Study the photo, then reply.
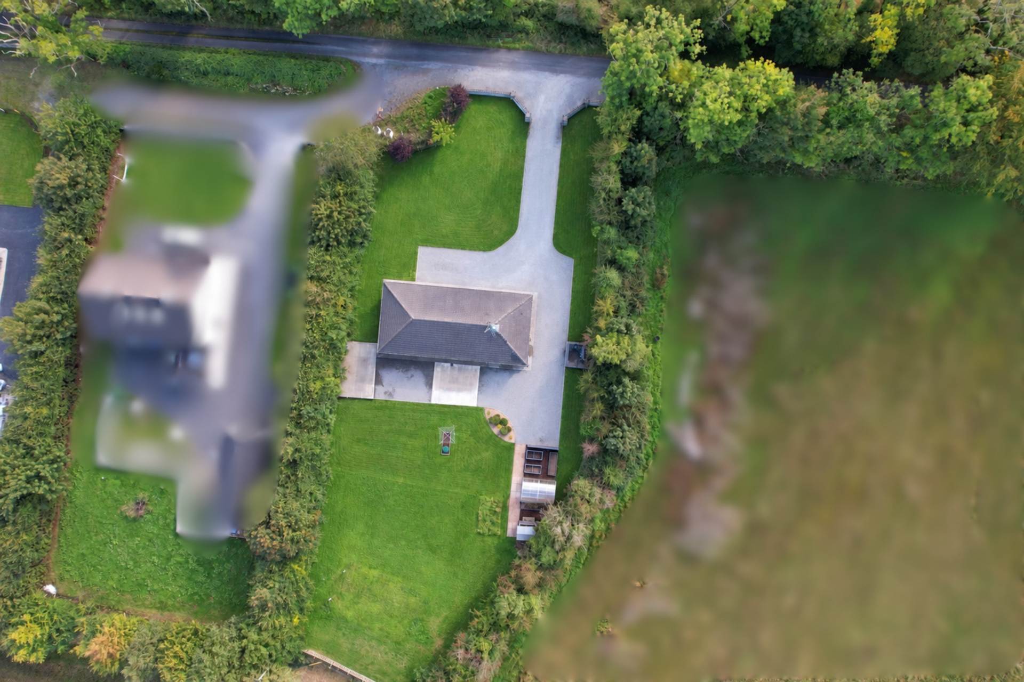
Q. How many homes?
2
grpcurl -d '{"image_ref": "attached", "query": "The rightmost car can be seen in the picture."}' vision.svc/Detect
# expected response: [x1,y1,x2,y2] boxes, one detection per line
[162,227,202,246]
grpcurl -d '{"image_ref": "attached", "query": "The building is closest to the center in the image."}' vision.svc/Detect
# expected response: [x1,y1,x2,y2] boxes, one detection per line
[376,280,535,368]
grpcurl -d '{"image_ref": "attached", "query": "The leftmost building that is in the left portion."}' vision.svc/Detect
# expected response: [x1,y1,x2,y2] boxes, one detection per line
[75,243,212,345]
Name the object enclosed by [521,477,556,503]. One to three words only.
greenhouse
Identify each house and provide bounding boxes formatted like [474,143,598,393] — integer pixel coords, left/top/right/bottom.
[75,243,212,345]
[376,280,535,368]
